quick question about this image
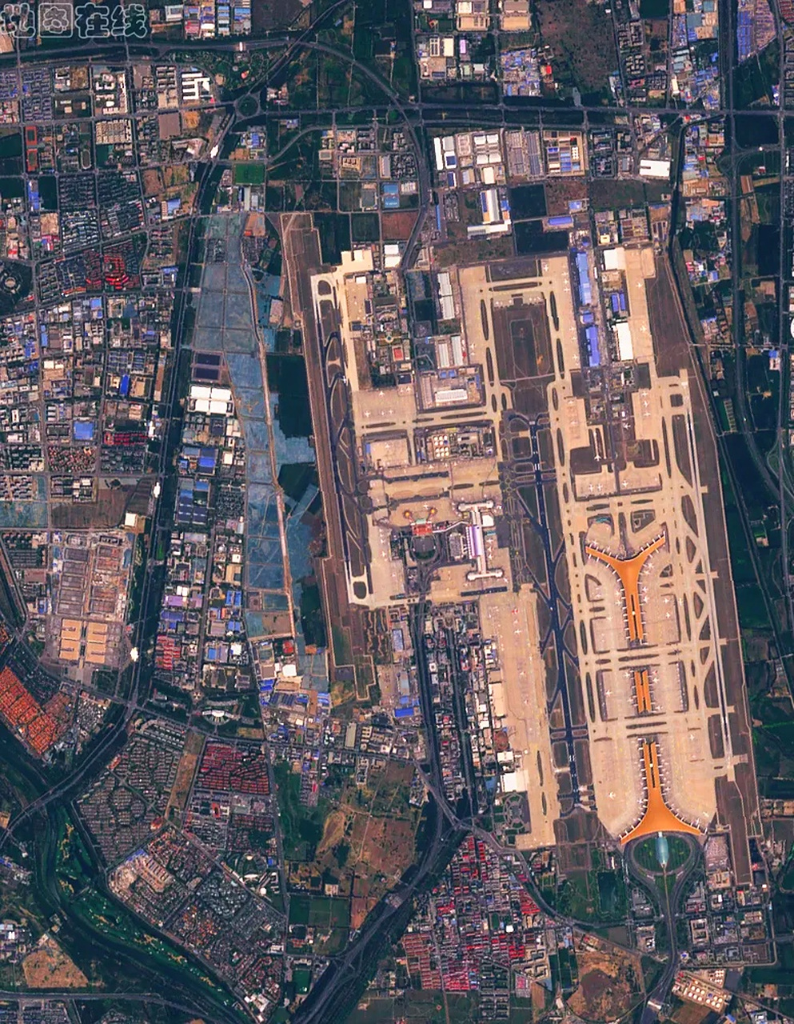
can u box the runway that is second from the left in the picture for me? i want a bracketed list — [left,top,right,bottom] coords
[529,421,580,802]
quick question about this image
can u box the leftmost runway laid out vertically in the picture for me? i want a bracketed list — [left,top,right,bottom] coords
[310,276,353,604]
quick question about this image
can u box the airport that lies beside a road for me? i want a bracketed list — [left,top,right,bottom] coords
[281,214,764,884]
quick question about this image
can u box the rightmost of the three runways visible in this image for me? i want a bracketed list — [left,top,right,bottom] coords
[683,376,735,780]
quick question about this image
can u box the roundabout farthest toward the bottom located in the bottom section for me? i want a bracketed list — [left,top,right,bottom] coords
[623,830,702,928]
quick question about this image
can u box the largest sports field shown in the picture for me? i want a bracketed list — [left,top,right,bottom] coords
[234,162,265,184]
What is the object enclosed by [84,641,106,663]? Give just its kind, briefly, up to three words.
building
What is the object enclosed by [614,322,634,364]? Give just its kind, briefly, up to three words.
hangar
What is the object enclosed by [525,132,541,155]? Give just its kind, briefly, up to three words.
shed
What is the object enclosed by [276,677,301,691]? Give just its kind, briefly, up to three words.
building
